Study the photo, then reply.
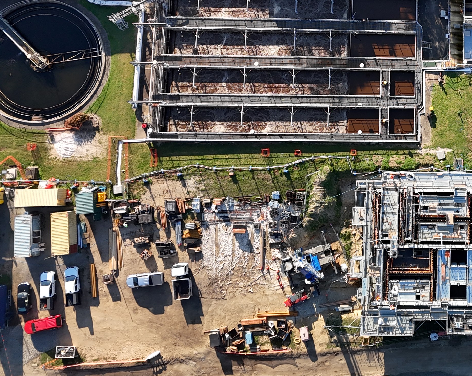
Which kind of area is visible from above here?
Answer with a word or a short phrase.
industrial area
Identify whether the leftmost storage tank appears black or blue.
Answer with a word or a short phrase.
black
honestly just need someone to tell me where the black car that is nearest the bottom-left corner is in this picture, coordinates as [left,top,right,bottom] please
[15,283,33,315]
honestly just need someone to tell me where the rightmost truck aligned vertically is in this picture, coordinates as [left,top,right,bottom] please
[170,261,191,305]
